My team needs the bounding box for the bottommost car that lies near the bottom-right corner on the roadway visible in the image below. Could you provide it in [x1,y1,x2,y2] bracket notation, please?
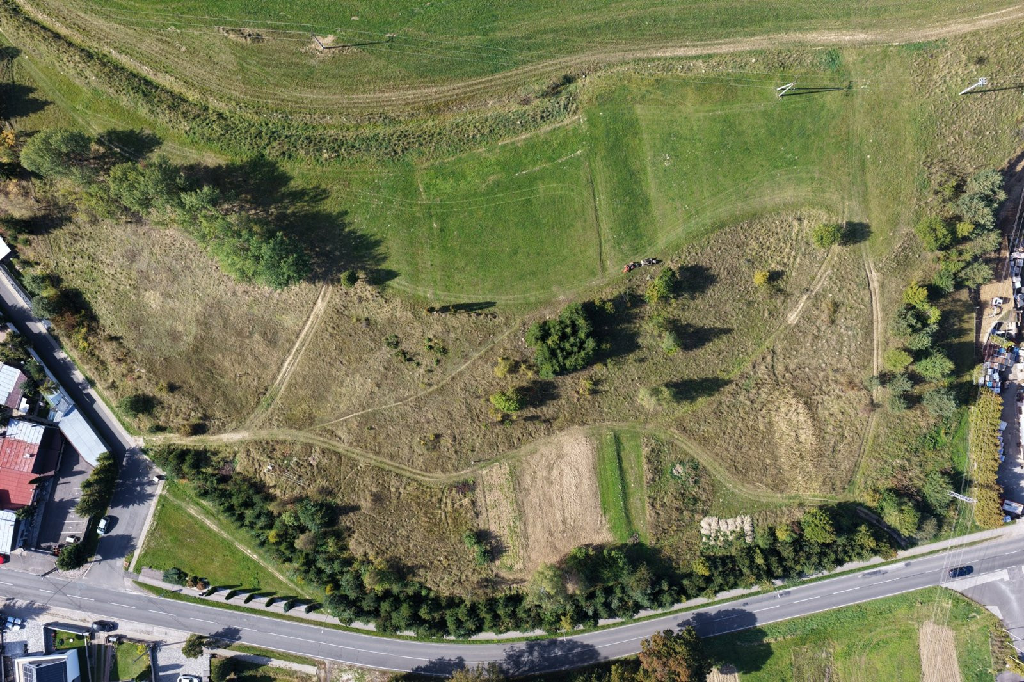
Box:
[951,565,973,578]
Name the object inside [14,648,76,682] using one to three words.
house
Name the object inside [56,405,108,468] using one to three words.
shed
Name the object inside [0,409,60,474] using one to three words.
house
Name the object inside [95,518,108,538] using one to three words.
vehicle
